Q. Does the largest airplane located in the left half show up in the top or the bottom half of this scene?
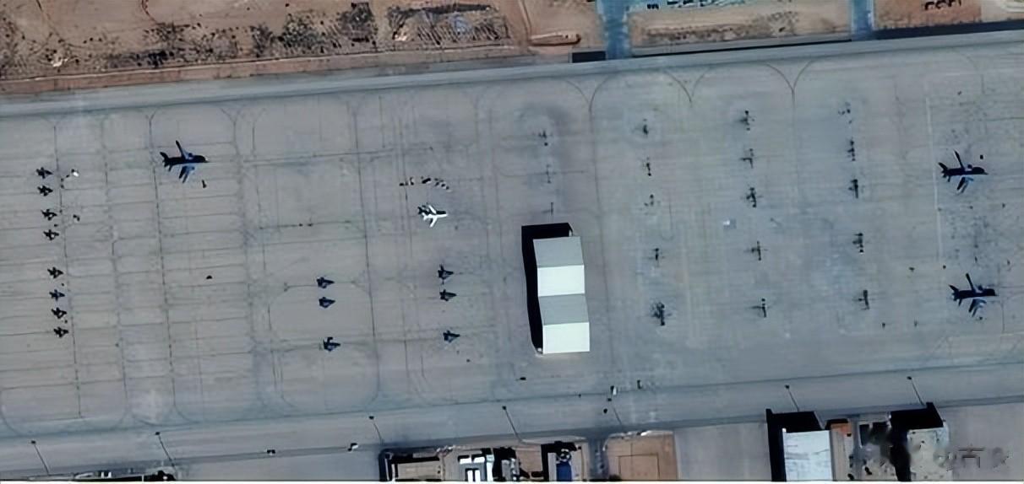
top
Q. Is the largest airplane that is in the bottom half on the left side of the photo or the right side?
right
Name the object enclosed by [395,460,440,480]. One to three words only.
building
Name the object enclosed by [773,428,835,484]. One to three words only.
hangar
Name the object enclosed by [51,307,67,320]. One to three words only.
airplane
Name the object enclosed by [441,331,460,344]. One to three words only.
airplane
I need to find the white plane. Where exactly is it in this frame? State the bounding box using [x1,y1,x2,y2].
[422,203,447,227]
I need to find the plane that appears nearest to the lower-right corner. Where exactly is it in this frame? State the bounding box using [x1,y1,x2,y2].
[958,277,994,315]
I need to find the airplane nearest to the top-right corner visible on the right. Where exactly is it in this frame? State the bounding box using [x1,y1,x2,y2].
[948,155,984,193]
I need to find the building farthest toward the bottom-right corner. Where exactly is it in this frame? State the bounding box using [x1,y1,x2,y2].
[898,425,952,484]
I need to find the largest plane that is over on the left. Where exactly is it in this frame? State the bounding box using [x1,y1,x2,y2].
[165,142,207,183]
